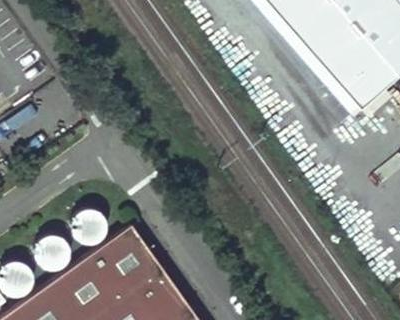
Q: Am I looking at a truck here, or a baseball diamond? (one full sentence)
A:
The one in the frame is a truck.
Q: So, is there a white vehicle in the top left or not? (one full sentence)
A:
Yes, looking in the top left, one can make out a white vehicle.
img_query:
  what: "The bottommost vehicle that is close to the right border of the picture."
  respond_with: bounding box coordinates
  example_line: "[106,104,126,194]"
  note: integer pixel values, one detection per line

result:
[367,154,400,188]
